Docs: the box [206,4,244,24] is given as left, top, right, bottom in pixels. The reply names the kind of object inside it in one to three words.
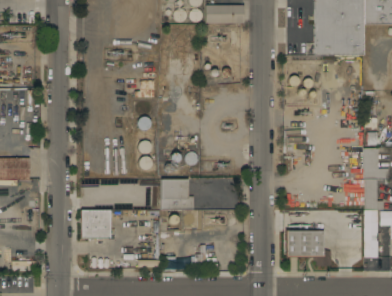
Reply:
building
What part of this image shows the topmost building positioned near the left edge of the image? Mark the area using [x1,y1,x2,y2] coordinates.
[0,156,30,180]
